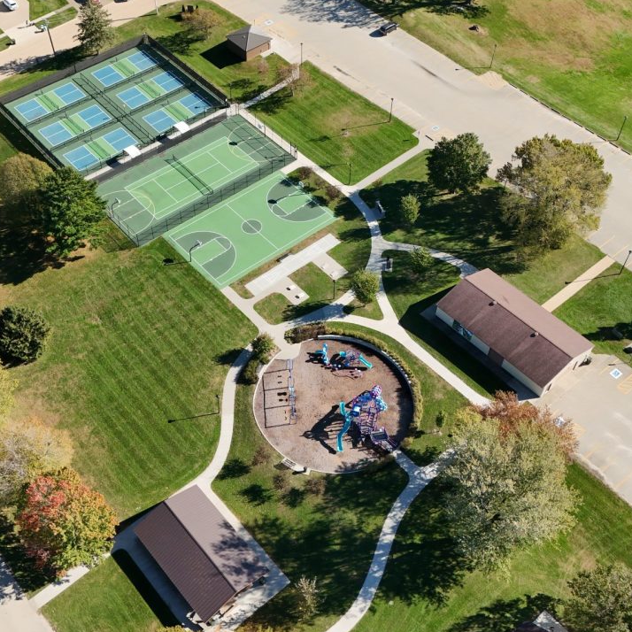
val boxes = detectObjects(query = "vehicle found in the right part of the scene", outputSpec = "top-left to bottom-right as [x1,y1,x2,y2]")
[377,21,400,33]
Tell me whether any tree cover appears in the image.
Yes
